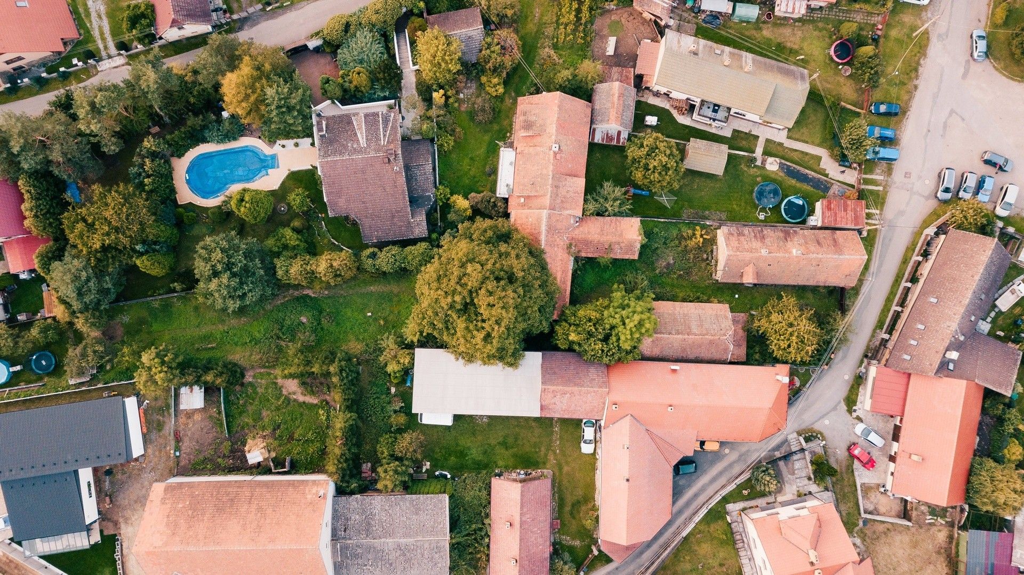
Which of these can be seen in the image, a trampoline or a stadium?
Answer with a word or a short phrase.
trampoline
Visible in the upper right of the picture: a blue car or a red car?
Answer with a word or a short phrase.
blue car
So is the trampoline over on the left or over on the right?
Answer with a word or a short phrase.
right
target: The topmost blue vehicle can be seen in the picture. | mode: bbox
[868,100,900,117]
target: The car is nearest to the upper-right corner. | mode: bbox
[969,30,988,63]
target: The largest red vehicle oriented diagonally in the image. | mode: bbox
[845,443,876,470]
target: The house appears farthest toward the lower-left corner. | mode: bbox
[0,467,99,542]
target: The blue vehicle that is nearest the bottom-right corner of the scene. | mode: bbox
[673,460,697,477]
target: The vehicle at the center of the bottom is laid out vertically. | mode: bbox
[580,419,596,453]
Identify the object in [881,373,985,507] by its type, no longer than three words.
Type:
house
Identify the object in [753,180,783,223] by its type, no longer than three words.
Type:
swimming pool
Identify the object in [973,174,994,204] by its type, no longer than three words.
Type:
car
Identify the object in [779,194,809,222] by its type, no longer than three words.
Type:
swimming pool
